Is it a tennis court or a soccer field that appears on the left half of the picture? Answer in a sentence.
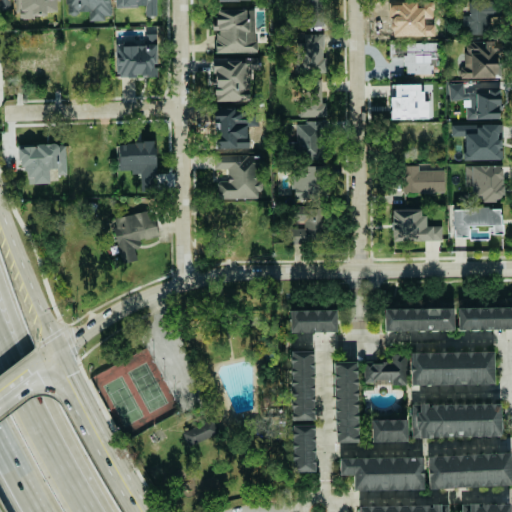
The one visible on the left half of the picture is a tennis court.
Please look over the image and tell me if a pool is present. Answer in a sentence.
Yes, there is a pool in the image.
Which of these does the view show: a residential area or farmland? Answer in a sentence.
The picture captures a residential area.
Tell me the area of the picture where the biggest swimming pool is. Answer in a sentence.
You can find the biggest swimming pool in the bottom area of the picture.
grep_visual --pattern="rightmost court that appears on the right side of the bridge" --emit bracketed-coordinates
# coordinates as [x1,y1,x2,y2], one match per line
[129,364,168,412]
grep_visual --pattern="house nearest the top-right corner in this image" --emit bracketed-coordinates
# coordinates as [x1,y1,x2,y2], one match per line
[464,0,498,34]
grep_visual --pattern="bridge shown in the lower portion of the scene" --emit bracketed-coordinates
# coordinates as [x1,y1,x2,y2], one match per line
[0,348,64,420]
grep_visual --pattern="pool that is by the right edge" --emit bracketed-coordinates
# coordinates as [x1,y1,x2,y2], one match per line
[470,226,491,242]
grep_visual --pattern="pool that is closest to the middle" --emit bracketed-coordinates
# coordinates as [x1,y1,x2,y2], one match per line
[278,172,290,190]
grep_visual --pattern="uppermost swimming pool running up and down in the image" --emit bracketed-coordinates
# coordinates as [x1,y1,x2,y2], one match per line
[256,8,268,43]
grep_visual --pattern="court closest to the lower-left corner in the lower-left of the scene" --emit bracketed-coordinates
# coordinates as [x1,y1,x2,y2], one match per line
[104,377,144,426]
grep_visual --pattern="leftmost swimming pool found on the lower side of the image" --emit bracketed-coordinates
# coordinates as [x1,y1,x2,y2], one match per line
[214,356,258,418]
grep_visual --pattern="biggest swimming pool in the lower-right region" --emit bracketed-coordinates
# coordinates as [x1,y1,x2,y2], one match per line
[364,386,404,412]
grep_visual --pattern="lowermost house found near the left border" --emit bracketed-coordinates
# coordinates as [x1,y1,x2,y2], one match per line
[19,144,66,184]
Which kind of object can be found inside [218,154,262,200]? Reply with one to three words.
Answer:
house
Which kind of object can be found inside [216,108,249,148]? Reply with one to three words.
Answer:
house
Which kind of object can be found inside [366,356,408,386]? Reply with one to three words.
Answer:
building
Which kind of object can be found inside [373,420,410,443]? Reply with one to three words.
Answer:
building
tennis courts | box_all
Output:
[129,364,168,412]
[104,377,144,426]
